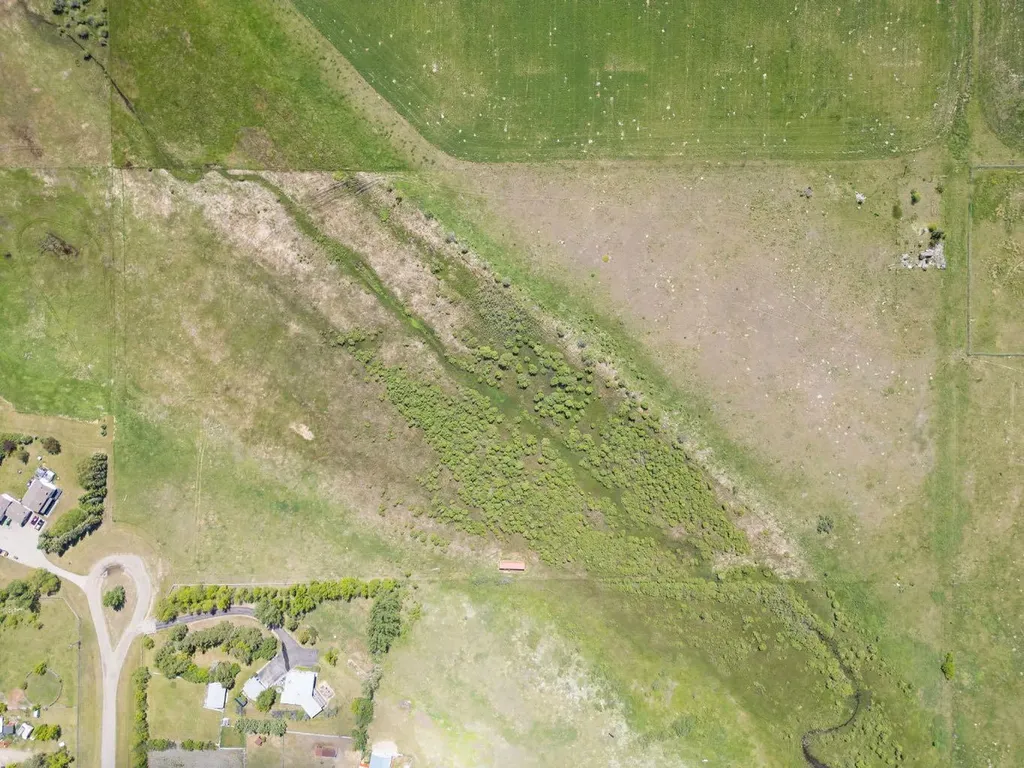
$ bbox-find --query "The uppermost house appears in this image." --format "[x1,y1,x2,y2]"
[0,477,69,525]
